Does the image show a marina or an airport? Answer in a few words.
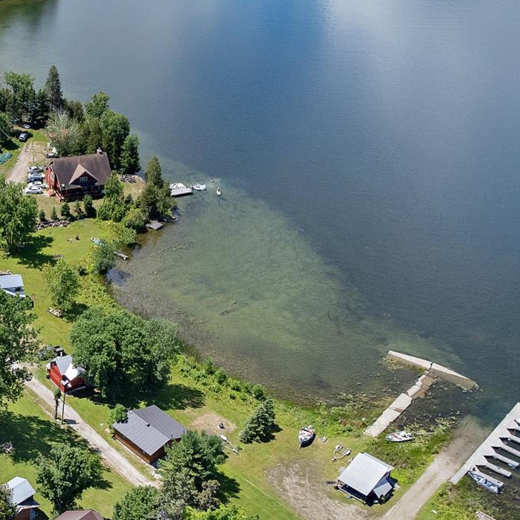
marina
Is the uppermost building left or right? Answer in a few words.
left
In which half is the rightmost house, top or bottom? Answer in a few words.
bottom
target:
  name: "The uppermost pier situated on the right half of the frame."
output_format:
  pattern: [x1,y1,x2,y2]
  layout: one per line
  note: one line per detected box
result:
[365,351,476,437]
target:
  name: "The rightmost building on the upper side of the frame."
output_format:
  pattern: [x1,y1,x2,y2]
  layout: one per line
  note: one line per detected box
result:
[46,145,116,205]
